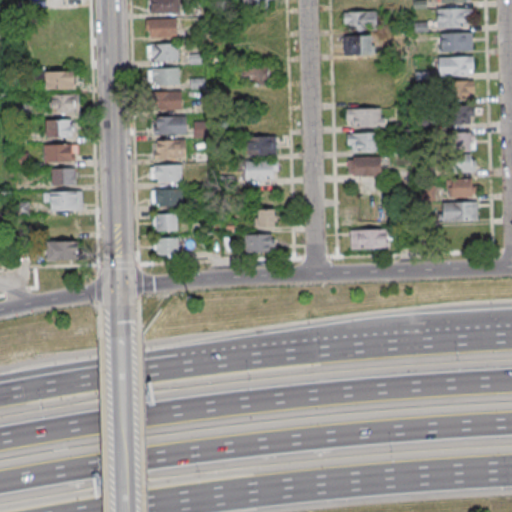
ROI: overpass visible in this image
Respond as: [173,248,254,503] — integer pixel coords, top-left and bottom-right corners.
[97,304,148,512]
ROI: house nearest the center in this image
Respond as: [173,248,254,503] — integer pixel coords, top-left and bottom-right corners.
[245,235,275,253]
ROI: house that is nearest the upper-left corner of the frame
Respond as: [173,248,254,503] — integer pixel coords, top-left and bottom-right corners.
[44,72,76,89]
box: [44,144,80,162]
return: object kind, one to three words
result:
house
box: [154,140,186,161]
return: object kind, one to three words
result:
house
